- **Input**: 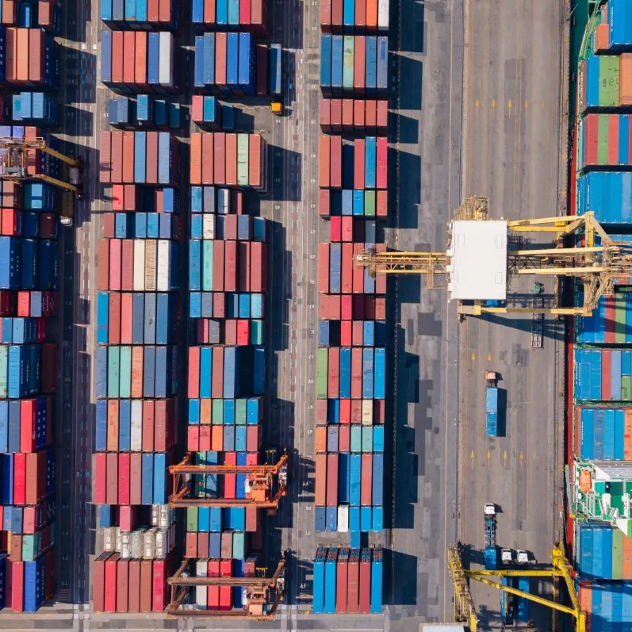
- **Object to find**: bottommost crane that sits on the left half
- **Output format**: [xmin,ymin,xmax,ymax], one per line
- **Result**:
[167,545,289,619]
